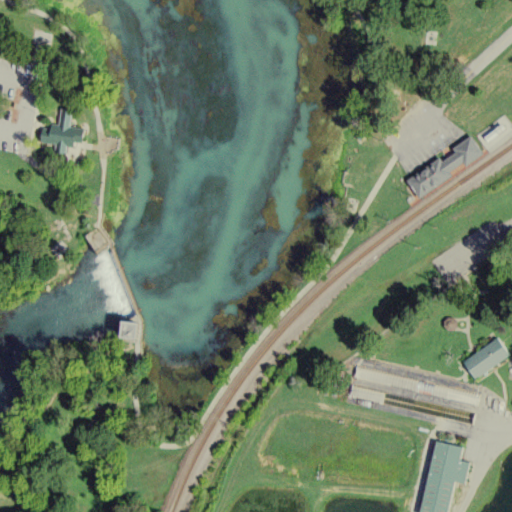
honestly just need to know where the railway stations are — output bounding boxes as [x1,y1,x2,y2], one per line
[405,134,484,198]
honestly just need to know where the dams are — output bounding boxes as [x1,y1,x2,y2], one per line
[59,243,145,350]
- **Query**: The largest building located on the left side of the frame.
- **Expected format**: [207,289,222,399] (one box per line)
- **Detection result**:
[40,110,82,154]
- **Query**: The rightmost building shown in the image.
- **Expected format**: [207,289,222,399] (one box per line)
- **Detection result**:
[466,340,509,378]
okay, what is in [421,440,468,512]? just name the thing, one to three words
building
